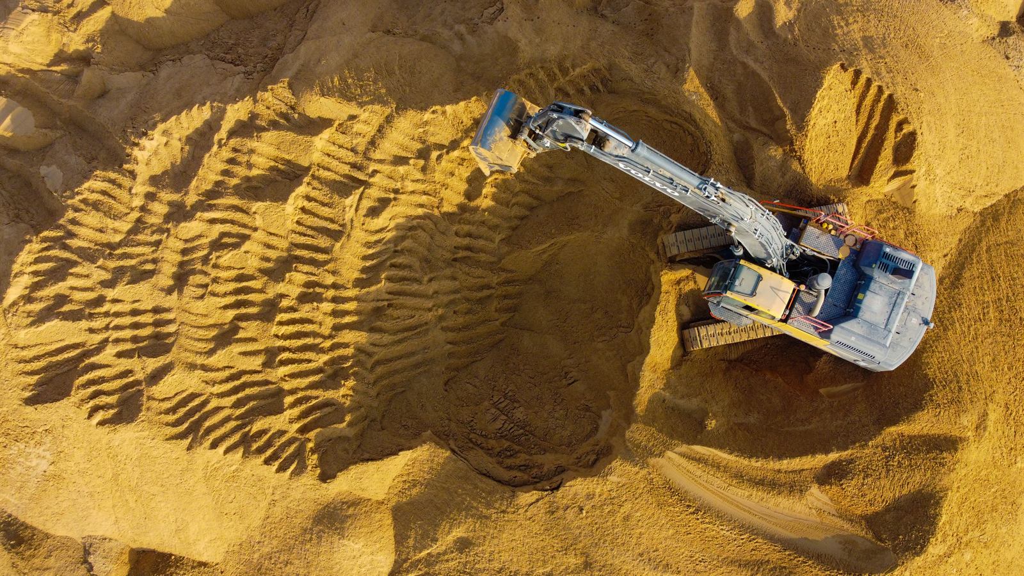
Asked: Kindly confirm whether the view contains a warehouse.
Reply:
No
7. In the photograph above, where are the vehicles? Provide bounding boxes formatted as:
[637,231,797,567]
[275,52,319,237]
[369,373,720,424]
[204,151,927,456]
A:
[469,88,935,373]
